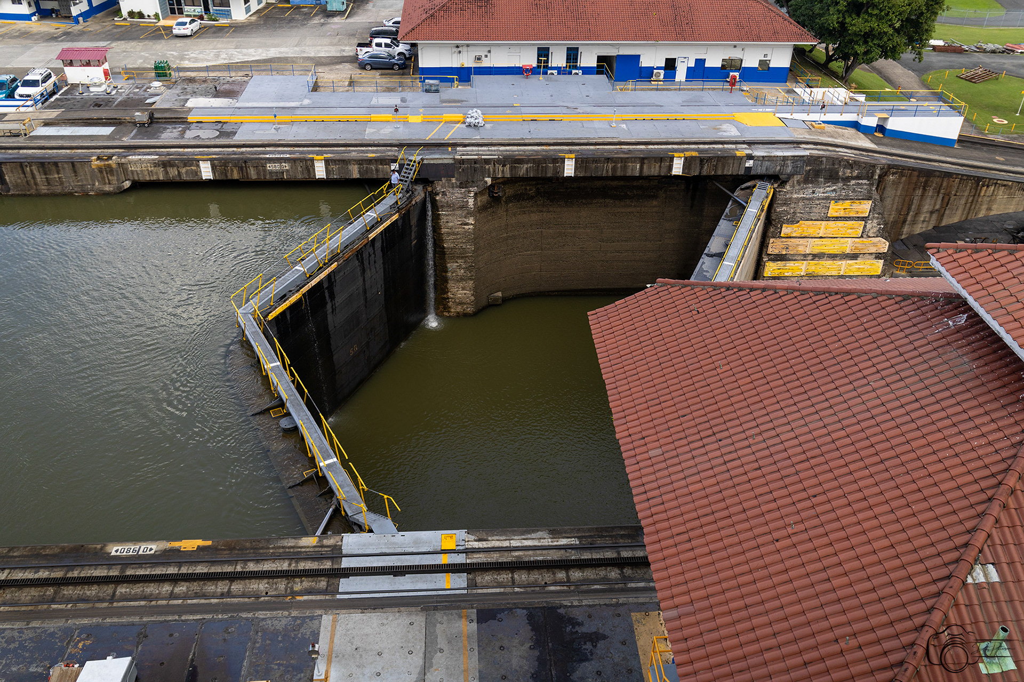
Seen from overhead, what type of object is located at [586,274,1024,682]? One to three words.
building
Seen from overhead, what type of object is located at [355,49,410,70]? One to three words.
car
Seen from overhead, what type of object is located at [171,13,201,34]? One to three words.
car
